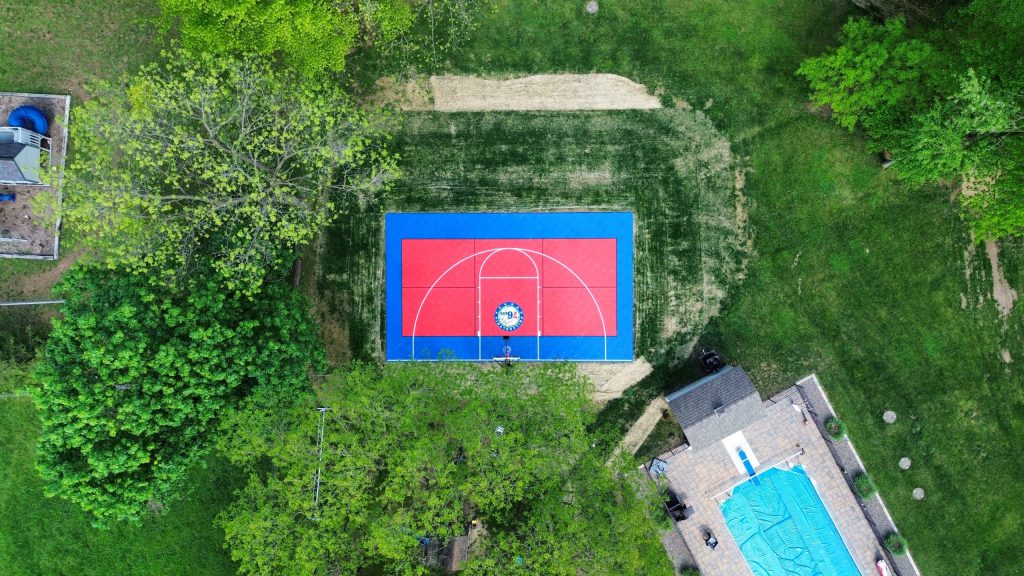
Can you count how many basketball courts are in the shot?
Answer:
1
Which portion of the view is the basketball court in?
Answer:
center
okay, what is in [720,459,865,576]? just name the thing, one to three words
swimming pool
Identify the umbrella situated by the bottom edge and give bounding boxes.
[875,555,898,574]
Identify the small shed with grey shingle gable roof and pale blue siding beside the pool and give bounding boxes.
[666,362,767,451]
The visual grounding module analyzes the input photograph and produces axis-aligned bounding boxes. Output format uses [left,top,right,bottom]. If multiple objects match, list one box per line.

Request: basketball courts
[386,213,633,362]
